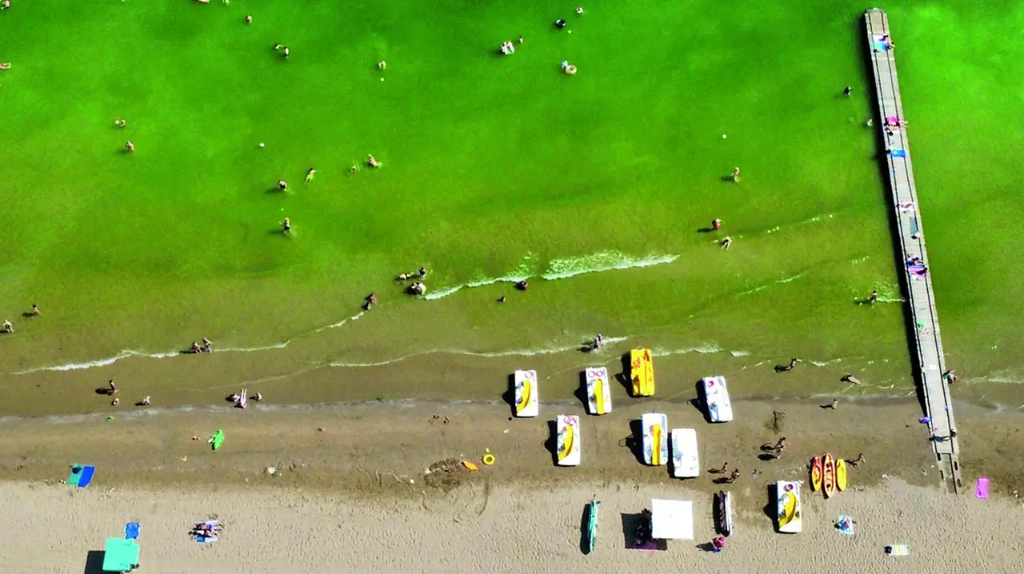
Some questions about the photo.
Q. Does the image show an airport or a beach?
beach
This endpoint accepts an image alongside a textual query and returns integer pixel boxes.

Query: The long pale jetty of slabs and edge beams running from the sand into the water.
[864,9,965,501]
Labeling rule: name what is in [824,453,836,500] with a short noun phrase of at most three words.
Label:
boat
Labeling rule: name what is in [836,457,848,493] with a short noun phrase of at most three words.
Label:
boat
